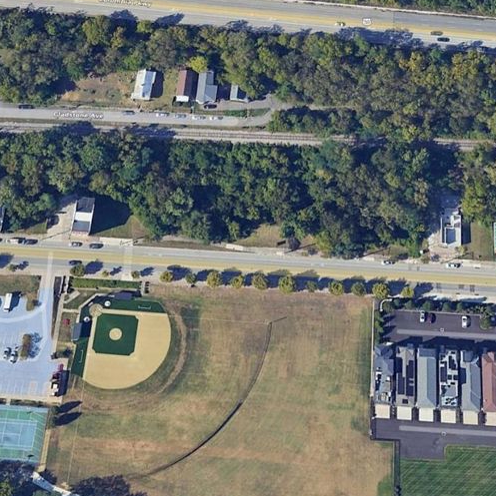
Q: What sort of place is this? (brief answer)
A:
sports ground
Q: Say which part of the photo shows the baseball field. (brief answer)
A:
bottom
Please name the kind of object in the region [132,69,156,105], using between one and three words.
house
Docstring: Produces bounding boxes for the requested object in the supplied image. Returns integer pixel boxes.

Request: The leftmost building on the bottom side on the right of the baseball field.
[375,342,394,405]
